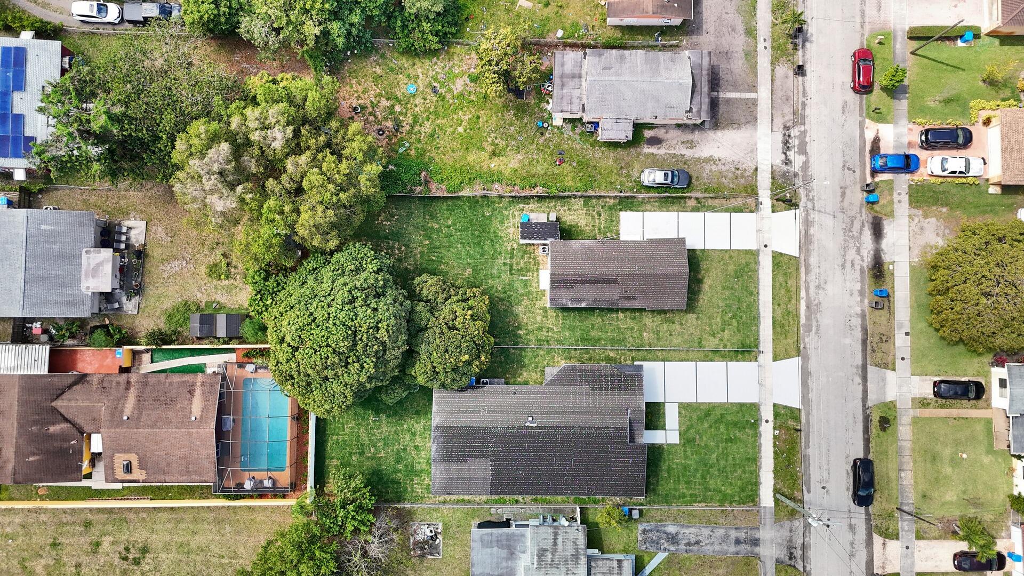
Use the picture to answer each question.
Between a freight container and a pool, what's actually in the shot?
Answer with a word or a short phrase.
pool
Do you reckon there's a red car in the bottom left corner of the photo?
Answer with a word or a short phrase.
No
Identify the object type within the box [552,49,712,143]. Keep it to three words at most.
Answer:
house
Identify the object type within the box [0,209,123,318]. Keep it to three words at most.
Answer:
house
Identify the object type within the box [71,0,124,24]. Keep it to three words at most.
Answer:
car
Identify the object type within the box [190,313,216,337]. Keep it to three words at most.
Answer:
shed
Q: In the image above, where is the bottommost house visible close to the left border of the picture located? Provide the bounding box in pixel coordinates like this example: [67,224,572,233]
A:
[0,371,225,484]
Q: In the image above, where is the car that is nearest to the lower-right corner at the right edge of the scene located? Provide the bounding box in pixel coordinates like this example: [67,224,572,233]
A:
[953,549,1006,575]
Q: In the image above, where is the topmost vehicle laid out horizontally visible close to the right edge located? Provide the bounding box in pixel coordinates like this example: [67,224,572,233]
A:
[918,125,974,151]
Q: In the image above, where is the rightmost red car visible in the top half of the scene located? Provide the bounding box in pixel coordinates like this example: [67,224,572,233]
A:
[850,48,877,95]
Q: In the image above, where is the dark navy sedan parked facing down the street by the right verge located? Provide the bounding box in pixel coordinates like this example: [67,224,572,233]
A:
[851,459,877,508]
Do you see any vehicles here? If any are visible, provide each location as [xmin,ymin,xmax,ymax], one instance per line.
[850,48,877,95]
[932,378,985,402]
[851,459,877,508]
[123,0,186,26]
[918,125,974,151]
[927,154,985,179]
[640,166,689,190]
[71,0,124,24]
[953,549,1006,575]
[1016,205,1024,225]
[871,152,921,175]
